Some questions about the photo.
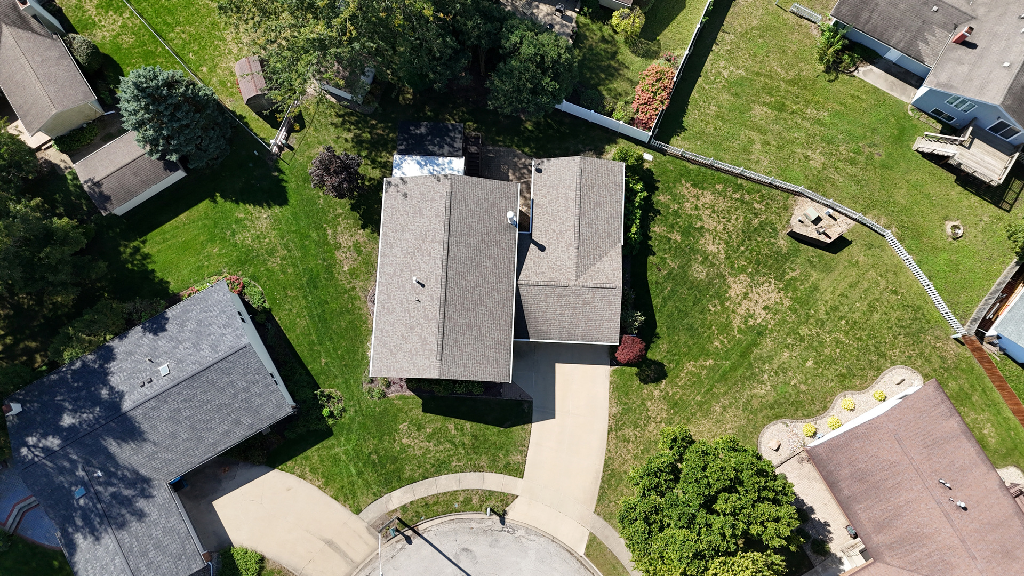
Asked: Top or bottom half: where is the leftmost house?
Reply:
top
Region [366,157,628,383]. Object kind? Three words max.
house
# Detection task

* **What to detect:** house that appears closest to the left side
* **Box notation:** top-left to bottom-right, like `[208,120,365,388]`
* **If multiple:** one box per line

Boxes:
[0,0,119,140]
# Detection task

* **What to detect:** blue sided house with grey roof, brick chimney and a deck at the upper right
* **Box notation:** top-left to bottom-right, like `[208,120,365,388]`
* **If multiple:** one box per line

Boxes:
[829,0,1024,161]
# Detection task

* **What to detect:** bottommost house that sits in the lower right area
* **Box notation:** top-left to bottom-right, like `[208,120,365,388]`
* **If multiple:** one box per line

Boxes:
[799,378,1024,576]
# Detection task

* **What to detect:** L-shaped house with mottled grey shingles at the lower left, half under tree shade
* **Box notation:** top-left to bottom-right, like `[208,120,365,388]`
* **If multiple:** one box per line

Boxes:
[0,277,296,576]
